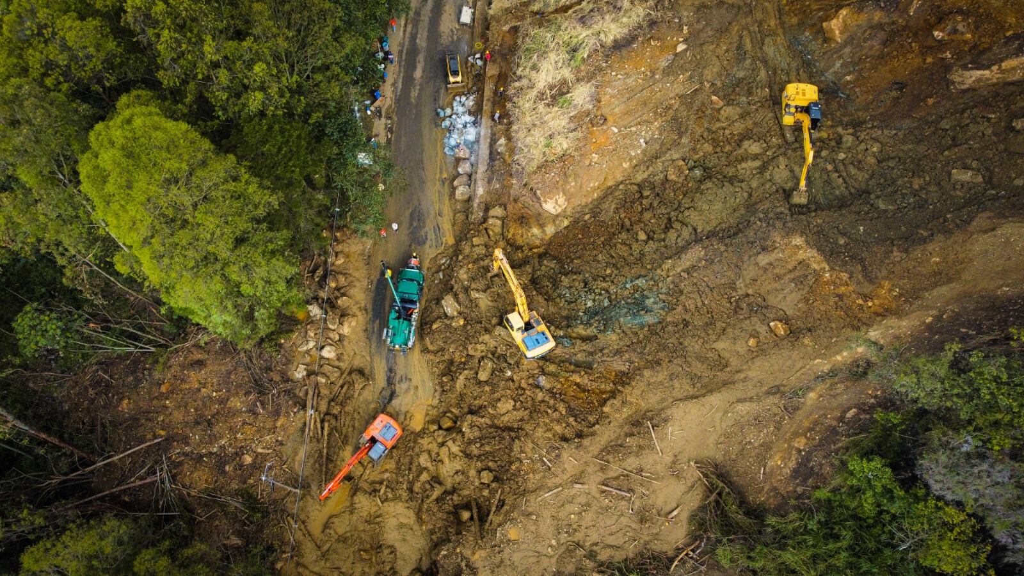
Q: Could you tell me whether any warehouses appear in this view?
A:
No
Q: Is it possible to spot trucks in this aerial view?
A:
Yes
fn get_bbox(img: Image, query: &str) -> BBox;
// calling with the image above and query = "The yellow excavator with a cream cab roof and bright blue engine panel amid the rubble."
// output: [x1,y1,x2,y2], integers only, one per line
[492,252,561,371]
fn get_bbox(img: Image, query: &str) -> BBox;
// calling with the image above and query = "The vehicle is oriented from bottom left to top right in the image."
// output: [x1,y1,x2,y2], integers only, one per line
[322,405,409,498]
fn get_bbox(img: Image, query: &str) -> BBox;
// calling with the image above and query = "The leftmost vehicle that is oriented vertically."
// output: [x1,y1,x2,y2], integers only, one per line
[380,254,422,351]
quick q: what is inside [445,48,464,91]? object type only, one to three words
work vehicle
